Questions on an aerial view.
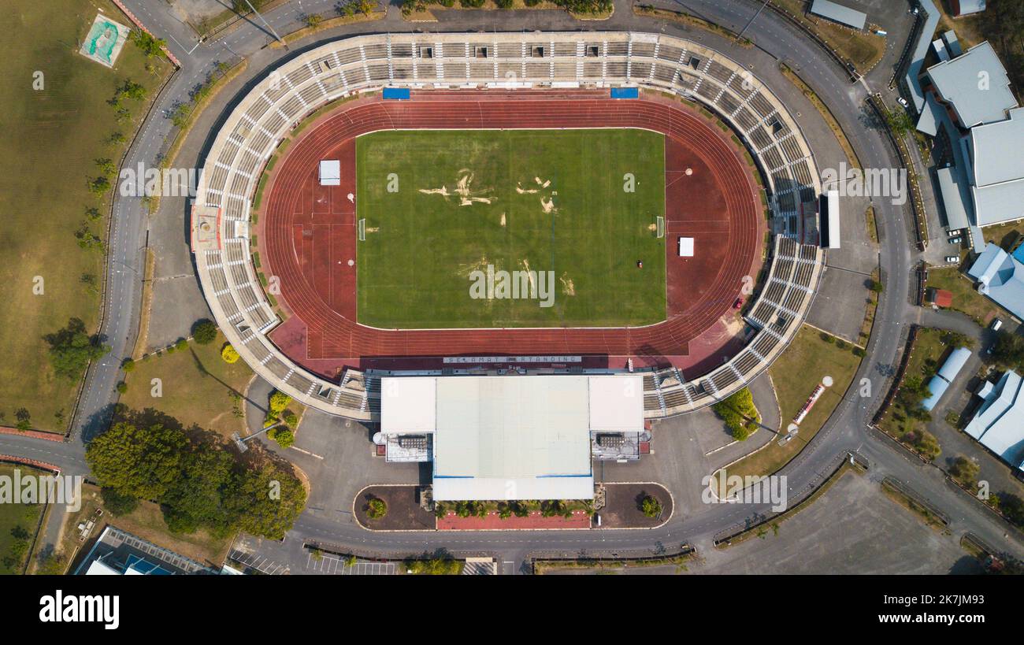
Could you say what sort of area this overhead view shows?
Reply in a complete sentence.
It's a sports ground.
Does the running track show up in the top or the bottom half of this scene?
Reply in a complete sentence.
The running track is in the top half of the image.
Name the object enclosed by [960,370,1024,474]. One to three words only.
building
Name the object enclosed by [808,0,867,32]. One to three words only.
shed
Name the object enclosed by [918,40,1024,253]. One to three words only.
building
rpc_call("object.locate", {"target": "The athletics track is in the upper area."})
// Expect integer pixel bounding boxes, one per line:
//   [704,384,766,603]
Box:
[265,91,757,359]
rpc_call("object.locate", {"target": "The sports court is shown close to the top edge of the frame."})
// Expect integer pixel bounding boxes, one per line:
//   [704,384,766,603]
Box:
[79,14,130,68]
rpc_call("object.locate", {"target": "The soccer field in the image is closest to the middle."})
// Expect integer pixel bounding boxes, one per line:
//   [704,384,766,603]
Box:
[356,129,668,328]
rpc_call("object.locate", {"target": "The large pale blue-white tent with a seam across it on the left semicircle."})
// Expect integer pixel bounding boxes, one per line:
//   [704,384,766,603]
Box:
[319,160,341,186]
